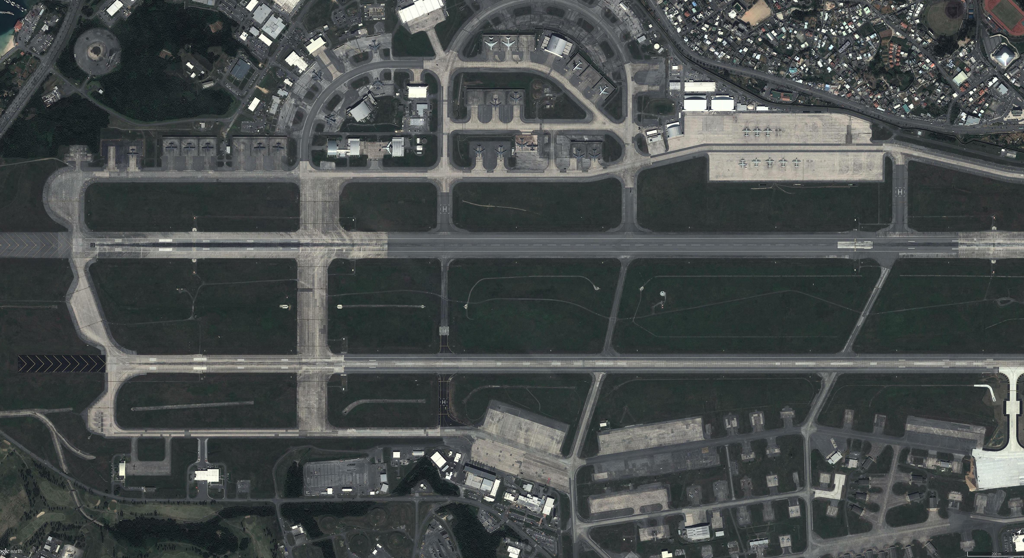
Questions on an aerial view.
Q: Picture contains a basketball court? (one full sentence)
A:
No, no basketball court is visible in the view.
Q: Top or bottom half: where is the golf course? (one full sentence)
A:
The golf course sits in the bottom half of the picture.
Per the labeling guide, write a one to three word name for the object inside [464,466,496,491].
building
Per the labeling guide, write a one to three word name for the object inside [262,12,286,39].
building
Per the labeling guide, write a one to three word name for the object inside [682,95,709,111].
hangar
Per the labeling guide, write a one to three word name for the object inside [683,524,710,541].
hangar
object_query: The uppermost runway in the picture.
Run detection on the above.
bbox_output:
[15,232,1024,258]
